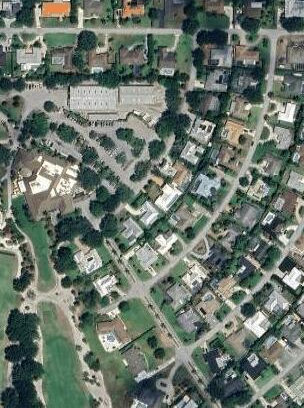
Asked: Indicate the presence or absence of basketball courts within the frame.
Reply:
No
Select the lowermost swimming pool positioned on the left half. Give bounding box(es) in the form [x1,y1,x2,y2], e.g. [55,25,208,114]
[99,330,119,348]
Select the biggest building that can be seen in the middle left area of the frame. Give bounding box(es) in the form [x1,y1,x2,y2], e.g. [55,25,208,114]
[12,146,87,224]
